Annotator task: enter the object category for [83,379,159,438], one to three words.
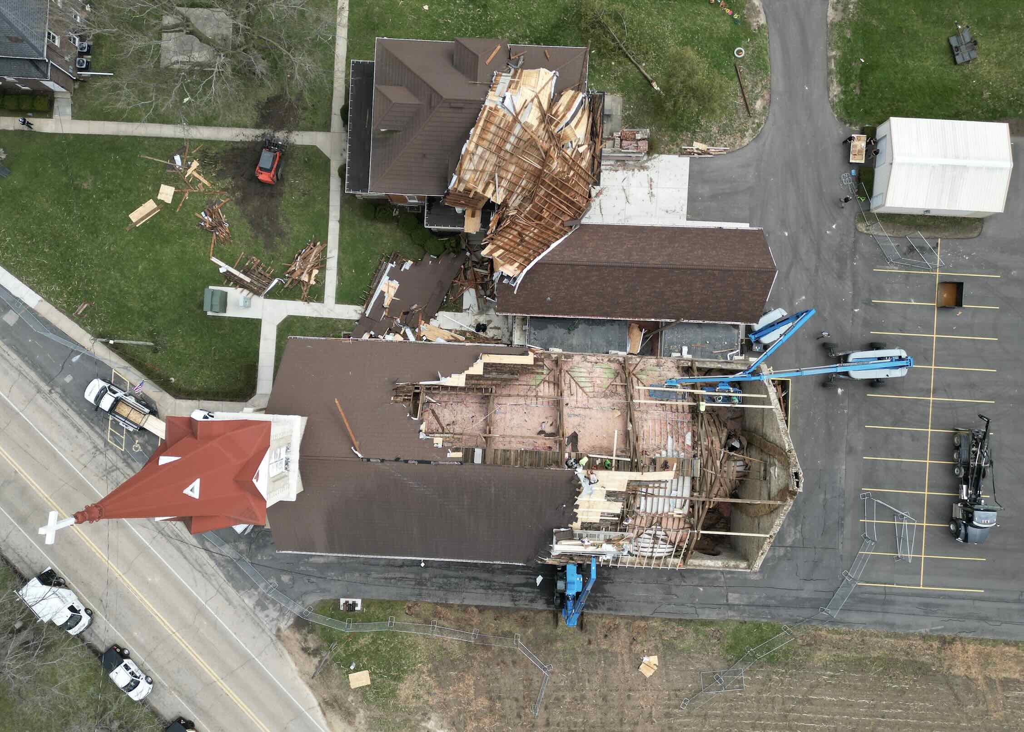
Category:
truck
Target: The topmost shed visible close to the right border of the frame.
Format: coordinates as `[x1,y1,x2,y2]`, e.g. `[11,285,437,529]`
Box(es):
[871,116,1016,218]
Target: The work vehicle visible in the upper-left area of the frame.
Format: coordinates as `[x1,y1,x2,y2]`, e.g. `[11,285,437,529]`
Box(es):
[249,134,285,181]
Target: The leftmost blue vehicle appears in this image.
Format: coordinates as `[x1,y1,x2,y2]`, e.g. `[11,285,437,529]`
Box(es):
[556,557,597,628]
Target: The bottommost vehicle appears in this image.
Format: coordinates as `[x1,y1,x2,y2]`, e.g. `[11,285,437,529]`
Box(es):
[151,705,196,732]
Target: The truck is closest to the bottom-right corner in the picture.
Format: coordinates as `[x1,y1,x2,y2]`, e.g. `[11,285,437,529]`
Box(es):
[956,424,1011,548]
